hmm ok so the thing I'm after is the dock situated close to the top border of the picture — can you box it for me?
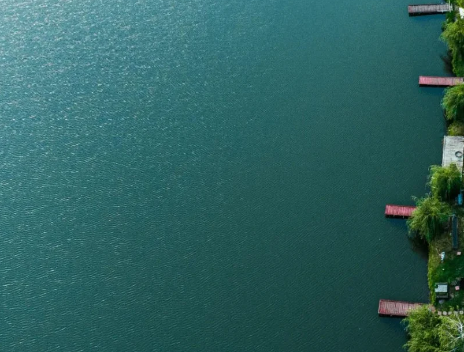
[408,0,452,15]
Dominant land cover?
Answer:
water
